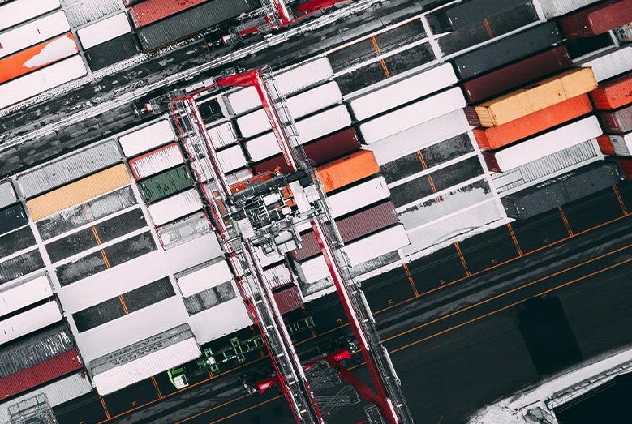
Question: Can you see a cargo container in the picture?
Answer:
Yes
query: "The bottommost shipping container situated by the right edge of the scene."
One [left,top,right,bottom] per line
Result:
[502,160,621,220]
